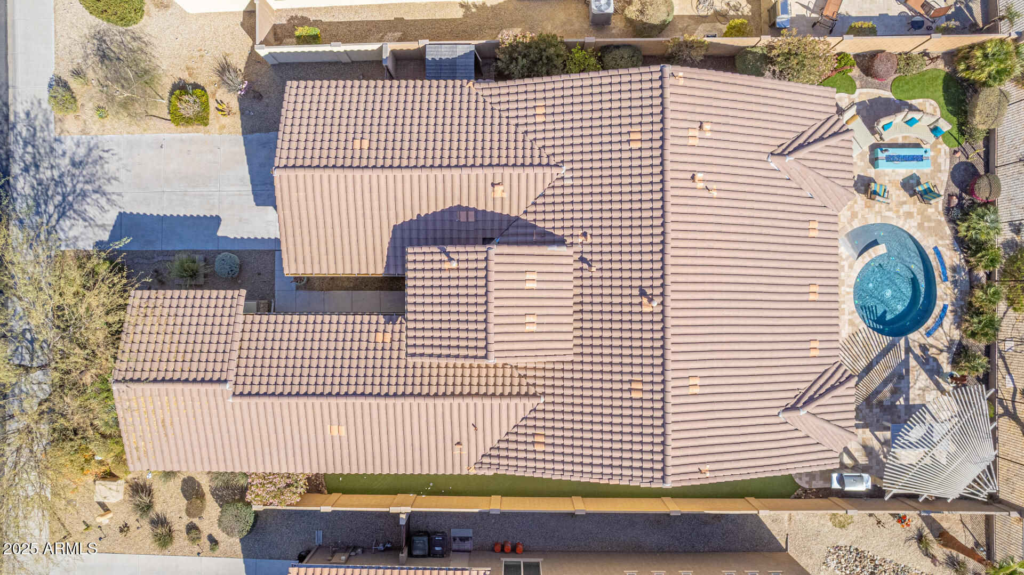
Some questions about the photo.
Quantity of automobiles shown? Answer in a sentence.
There are no automobiles in the image.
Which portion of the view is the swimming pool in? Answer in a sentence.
Look in the right portion of the view to spot the swimming pool.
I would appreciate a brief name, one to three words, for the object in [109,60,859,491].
house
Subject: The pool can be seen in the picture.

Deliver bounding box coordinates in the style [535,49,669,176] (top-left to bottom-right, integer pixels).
[839,213,948,347]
